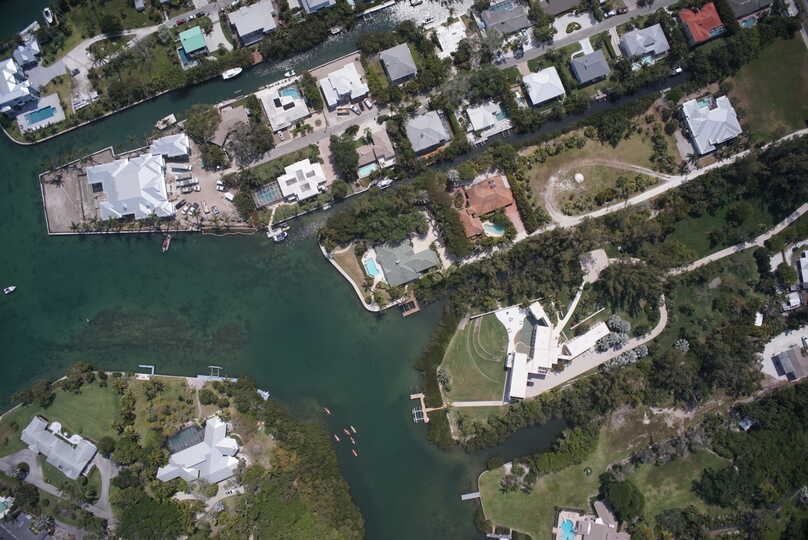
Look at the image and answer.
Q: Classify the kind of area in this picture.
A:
residential area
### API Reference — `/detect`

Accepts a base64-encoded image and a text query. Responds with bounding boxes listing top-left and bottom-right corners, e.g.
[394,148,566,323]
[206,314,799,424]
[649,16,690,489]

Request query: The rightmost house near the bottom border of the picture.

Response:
[576,493,633,540]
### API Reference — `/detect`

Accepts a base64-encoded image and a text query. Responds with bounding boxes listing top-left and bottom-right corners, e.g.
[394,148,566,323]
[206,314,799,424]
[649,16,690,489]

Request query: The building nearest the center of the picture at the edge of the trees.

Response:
[376,240,442,287]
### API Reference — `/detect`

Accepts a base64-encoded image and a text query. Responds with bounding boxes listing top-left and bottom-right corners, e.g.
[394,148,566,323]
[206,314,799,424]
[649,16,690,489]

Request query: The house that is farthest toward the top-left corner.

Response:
[12,39,45,69]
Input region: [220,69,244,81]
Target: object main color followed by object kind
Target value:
white boat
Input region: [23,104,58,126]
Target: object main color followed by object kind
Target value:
blue swimming pool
